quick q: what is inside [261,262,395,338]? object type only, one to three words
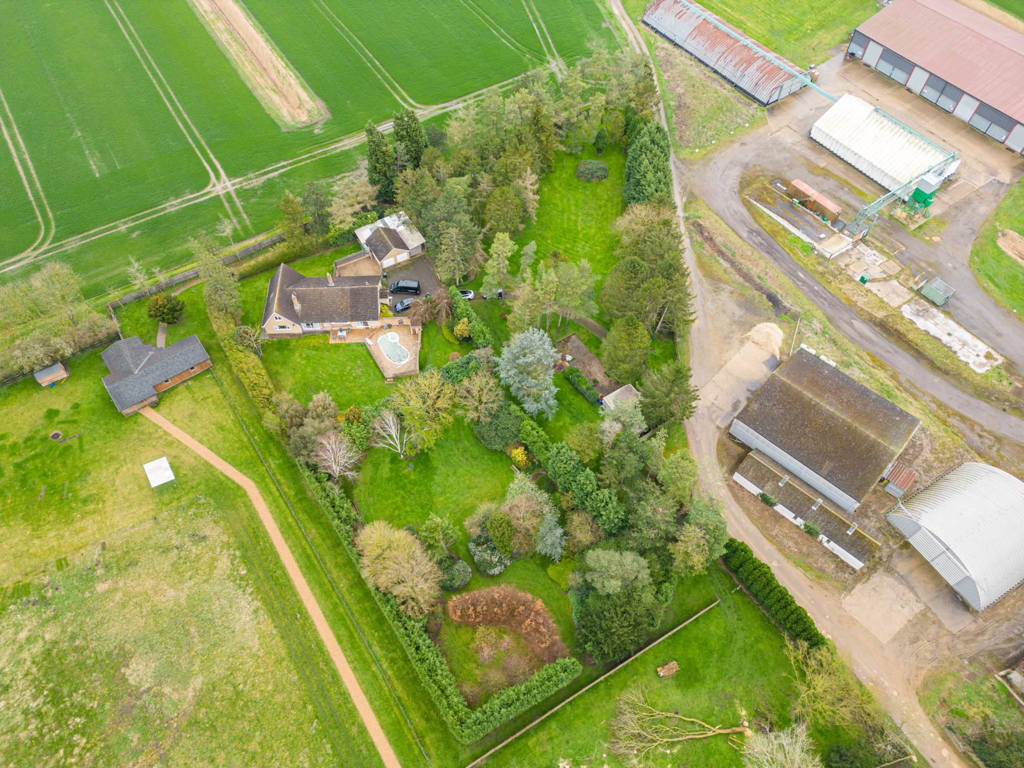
house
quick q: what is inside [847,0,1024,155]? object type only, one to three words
shed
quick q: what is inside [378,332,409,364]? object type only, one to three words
swimming pool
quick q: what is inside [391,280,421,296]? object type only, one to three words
vehicle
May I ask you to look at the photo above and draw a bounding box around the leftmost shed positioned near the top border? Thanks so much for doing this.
[642,0,817,105]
